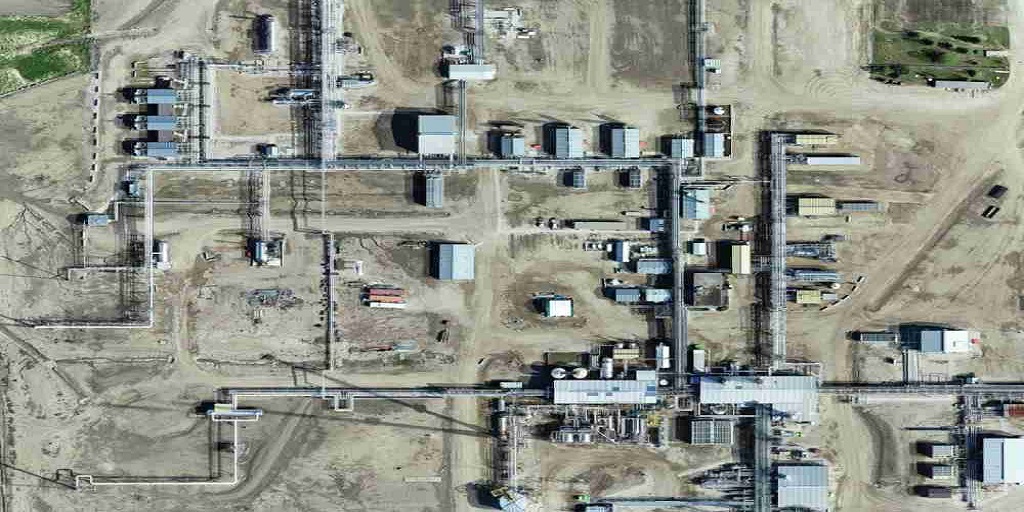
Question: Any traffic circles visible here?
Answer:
No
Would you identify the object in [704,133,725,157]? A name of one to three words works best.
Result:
building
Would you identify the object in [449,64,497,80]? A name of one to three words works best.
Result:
shed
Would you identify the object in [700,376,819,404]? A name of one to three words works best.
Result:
building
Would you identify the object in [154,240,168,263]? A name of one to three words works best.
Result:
shed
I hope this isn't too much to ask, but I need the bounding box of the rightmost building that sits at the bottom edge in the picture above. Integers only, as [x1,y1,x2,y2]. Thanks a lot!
[983,437,1024,487]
